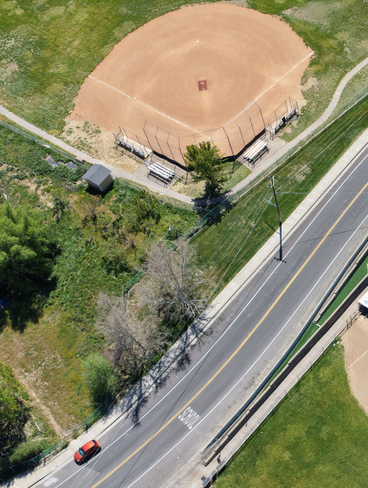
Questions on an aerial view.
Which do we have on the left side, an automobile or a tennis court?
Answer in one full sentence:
Looking on the left side, you will find an automobile.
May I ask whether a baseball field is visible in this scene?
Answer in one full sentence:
Yes, a baseball field appears in the view.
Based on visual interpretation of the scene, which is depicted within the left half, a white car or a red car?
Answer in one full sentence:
The feature located within the left half is a red car.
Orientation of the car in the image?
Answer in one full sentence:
I'd say the car is aligned on a diagonal in the picture.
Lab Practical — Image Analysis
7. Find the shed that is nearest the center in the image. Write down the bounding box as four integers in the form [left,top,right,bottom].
[82,164,113,193]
